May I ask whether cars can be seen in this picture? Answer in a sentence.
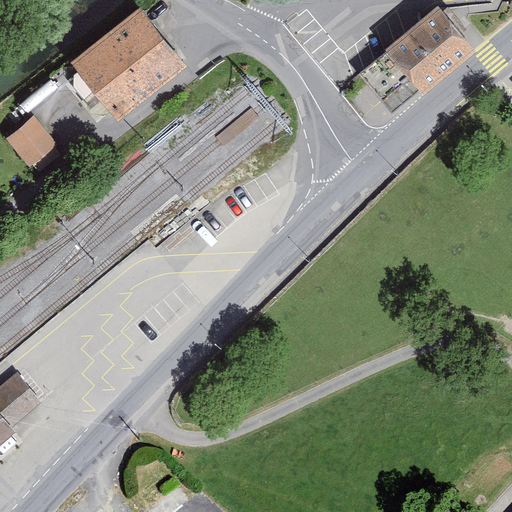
Yes, a car appears in the view.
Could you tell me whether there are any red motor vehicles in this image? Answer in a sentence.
Yes, the photo shows a red motor vehicle.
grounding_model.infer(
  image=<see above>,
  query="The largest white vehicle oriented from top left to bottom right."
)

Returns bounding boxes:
[190,218,217,246]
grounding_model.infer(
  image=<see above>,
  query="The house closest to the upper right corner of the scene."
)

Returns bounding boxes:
[386,4,478,94]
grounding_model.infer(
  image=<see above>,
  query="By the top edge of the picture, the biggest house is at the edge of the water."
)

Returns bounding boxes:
[70,6,187,121]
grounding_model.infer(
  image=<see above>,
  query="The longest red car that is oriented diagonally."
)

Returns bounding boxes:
[224,195,244,217]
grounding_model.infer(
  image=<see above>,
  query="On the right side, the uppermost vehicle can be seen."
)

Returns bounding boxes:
[368,36,384,58]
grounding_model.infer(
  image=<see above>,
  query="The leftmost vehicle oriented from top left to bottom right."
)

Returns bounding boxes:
[138,320,157,340]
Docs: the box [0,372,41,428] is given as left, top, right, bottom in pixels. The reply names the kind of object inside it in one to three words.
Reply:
shed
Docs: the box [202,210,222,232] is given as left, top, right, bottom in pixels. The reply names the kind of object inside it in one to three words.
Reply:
car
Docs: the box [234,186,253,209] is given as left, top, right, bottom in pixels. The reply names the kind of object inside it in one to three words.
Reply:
car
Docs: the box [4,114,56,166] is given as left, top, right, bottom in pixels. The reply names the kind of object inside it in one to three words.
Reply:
barn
